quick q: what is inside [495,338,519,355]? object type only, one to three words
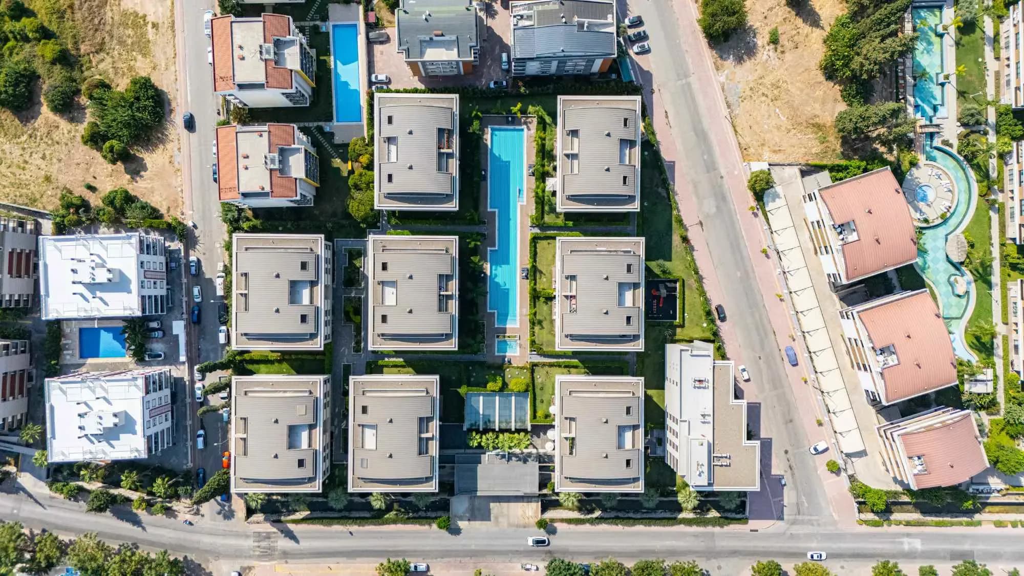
swimming pool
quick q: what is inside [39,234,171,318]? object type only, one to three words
building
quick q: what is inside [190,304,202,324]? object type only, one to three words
vehicle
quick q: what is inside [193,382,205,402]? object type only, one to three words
vehicle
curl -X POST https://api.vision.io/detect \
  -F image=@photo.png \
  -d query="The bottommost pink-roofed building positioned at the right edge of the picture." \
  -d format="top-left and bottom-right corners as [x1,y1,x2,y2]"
[876,403,991,490]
